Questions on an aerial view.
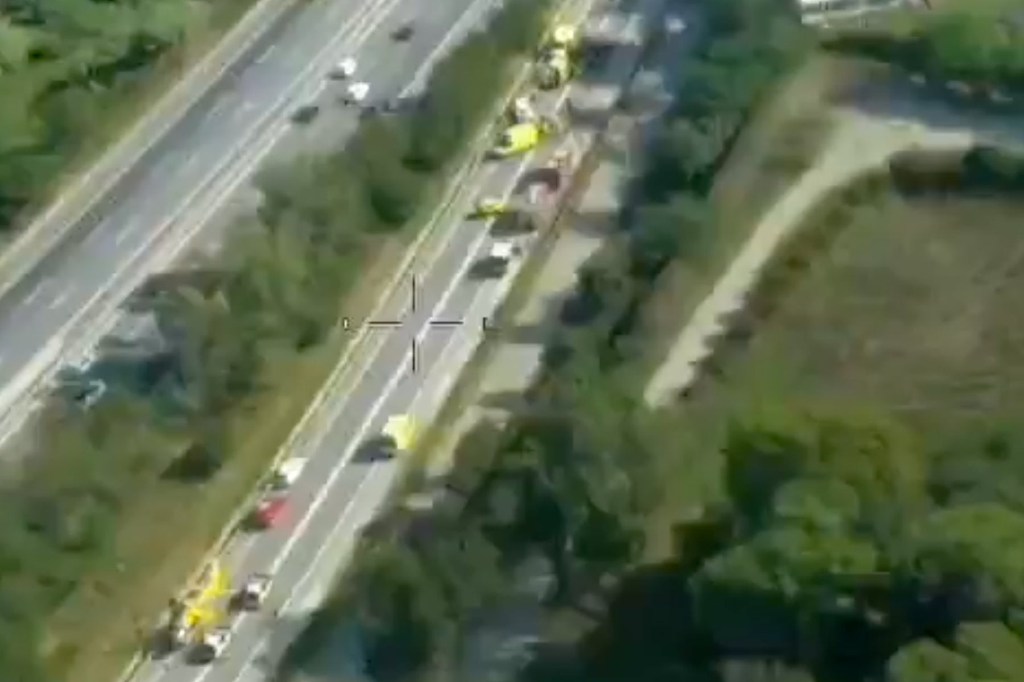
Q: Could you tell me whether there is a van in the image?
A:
Yes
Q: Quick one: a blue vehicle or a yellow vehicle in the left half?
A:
yellow vehicle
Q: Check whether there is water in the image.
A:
No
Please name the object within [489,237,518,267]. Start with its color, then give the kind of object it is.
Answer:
white van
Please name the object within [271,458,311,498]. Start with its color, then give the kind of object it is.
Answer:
white van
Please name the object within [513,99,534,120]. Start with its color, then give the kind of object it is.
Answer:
white vehicle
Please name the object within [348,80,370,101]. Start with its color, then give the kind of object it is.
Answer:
white car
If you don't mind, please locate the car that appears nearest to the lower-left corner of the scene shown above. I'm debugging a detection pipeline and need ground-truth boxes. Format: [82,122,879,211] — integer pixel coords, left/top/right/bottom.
[149,622,176,659]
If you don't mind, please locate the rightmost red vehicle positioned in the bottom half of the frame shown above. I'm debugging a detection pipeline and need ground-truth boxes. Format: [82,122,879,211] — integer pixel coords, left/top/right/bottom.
[254,498,289,534]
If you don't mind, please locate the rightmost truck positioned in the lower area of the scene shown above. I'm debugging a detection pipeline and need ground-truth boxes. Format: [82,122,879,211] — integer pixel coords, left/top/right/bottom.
[386,410,426,456]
